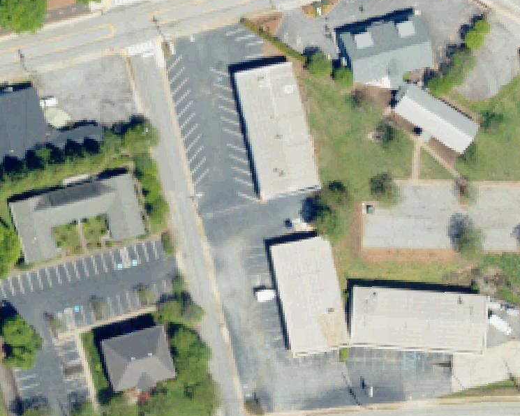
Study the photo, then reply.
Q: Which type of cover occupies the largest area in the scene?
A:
paved ground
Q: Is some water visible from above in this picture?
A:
No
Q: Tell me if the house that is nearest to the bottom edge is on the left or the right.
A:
left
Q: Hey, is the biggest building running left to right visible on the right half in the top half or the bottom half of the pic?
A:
bottom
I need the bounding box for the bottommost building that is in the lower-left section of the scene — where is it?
[101,325,176,393]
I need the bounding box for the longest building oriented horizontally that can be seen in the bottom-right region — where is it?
[349,286,487,358]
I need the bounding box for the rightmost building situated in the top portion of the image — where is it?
[396,84,480,154]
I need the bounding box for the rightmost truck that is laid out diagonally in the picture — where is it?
[487,311,512,334]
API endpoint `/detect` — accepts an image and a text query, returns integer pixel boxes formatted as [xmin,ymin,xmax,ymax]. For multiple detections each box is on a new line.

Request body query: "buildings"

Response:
[349,286,487,358]
[338,16,433,88]
[0,87,49,159]
[101,325,176,393]
[9,174,145,262]
[270,235,349,358]
[234,62,322,201]
[396,84,480,154]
